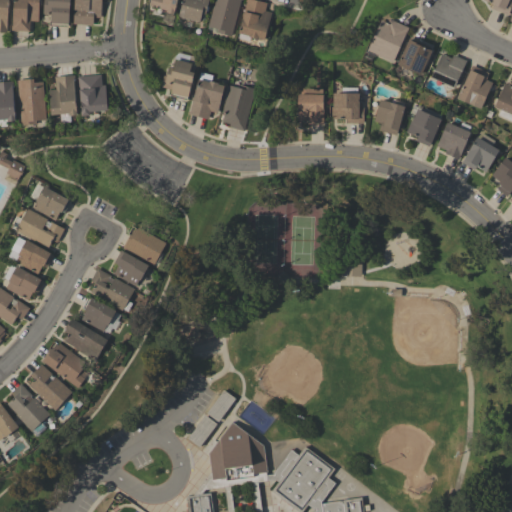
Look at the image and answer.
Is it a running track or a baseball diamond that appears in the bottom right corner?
baseball diamond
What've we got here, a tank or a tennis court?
tennis court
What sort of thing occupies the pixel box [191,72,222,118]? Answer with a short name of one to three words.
house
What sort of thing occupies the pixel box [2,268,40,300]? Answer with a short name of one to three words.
house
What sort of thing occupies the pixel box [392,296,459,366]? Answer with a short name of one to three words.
baseball field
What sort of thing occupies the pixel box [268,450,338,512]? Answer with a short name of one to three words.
building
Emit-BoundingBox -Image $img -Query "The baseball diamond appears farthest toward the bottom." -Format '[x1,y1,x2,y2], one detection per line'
[378,424,436,499]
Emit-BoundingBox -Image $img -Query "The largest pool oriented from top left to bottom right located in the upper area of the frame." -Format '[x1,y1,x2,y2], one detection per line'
[426,79,447,97]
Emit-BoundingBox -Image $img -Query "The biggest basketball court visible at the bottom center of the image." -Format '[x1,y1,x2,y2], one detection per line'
[240,402,275,434]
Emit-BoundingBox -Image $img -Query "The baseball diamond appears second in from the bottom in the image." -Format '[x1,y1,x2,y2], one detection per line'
[252,344,323,404]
